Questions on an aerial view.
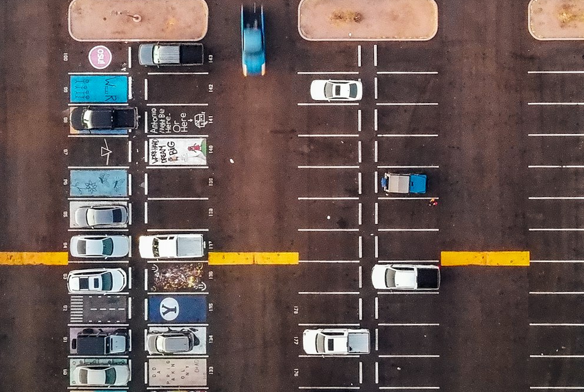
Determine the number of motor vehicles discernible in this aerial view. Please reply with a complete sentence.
The picture shows 14 motor vehicles.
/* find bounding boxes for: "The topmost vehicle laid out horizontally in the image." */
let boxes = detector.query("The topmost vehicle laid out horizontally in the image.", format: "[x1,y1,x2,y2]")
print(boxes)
[138,41,205,68]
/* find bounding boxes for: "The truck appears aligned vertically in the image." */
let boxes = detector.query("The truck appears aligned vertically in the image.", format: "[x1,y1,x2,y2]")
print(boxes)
[240,6,267,75]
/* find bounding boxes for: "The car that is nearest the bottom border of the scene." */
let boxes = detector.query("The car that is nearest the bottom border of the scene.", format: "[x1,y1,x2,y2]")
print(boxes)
[73,362,131,390]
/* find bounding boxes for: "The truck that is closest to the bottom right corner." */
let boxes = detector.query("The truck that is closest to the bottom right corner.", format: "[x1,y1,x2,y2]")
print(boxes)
[372,264,441,294]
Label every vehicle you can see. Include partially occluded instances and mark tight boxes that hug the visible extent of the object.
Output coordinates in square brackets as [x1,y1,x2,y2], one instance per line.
[372,264,441,294]
[303,328,371,359]
[71,105,139,134]
[67,268,127,295]
[379,172,426,198]
[240,6,267,75]
[72,329,131,358]
[71,235,131,261]
[76,204,131,231]
[148,331,197,359]
[311,78,362,103]
[73,362,131,390]
[139,234,206,263]
[138,41,205,68]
